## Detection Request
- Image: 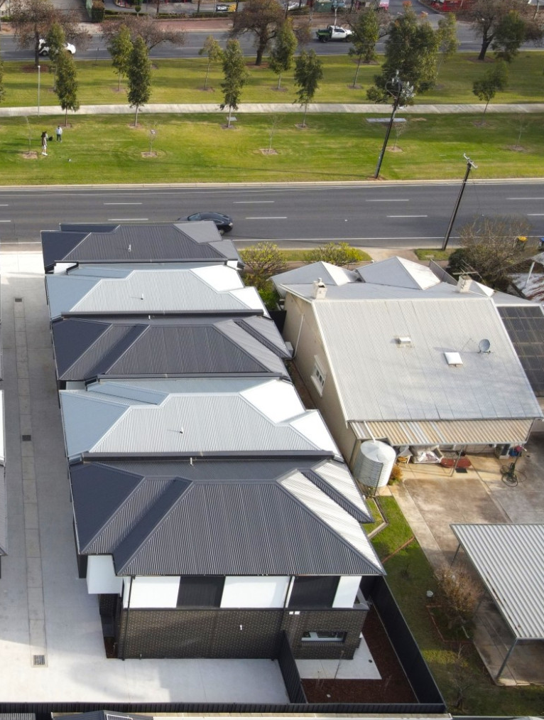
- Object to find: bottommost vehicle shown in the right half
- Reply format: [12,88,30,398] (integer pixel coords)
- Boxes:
[314,29,352,43]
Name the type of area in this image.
residential area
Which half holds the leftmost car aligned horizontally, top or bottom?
top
